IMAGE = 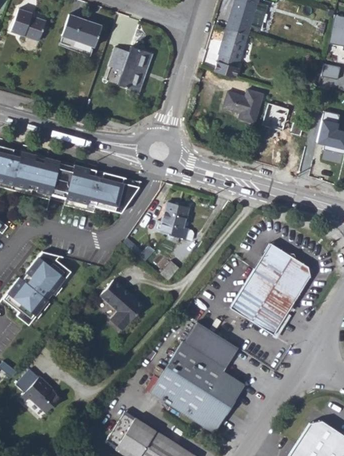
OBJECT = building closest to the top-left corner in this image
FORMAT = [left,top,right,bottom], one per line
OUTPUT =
[12,4,48,40]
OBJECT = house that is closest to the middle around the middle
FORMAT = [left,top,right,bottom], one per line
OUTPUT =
[158,198,190,236]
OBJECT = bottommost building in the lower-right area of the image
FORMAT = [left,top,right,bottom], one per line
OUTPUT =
[284,421,344,456]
